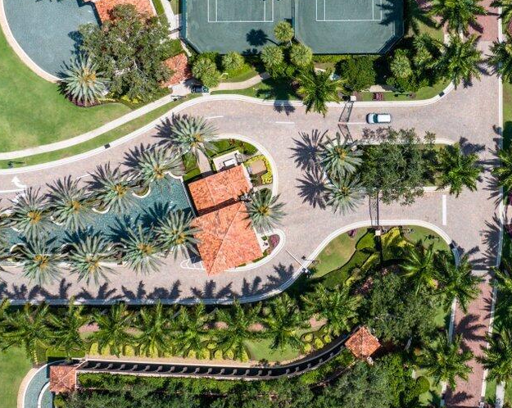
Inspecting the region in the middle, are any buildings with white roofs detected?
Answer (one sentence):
No, looking in the middle, there is no building with a white roof.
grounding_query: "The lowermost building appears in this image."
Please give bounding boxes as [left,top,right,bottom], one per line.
[49,361,84,393]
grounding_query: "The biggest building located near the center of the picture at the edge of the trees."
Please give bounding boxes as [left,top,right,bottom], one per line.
[188,164,263,275]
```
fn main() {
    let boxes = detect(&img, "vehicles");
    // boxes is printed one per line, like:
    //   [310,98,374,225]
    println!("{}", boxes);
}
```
[193,85,208,93]
[366,112,392,125]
